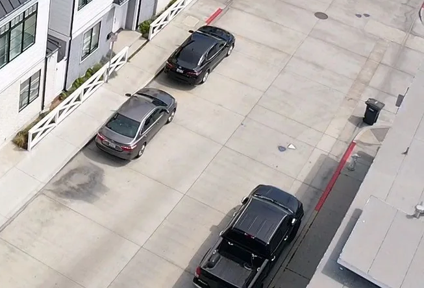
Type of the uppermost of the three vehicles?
car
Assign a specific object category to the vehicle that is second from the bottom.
automobile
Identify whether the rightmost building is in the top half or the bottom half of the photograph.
bottom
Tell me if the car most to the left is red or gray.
gray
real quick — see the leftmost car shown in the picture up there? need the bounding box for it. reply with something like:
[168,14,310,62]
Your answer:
[91,82,182,162]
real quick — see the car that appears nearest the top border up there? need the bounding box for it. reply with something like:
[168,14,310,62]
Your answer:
[160,22,236,87]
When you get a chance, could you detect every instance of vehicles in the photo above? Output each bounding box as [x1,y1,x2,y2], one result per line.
[184,179,309,288]
[91,82,182,162]
[160,22,236,87]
